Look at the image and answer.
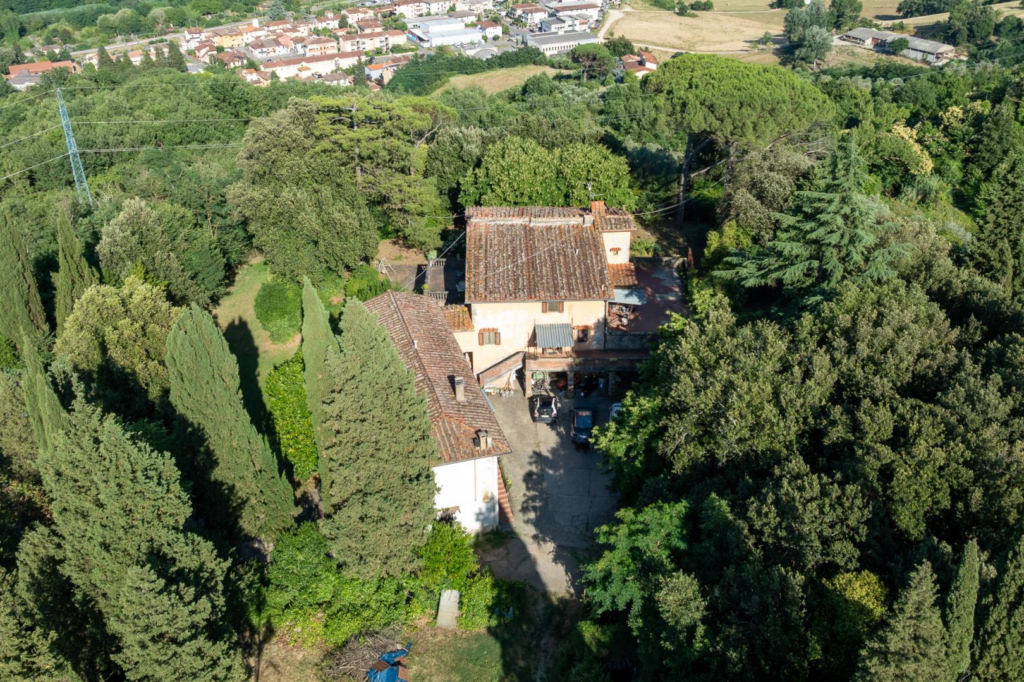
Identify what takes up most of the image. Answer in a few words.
trees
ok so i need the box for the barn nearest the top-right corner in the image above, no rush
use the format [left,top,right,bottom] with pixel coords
[896,35,960,61]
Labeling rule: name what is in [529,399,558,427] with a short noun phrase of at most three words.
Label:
car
